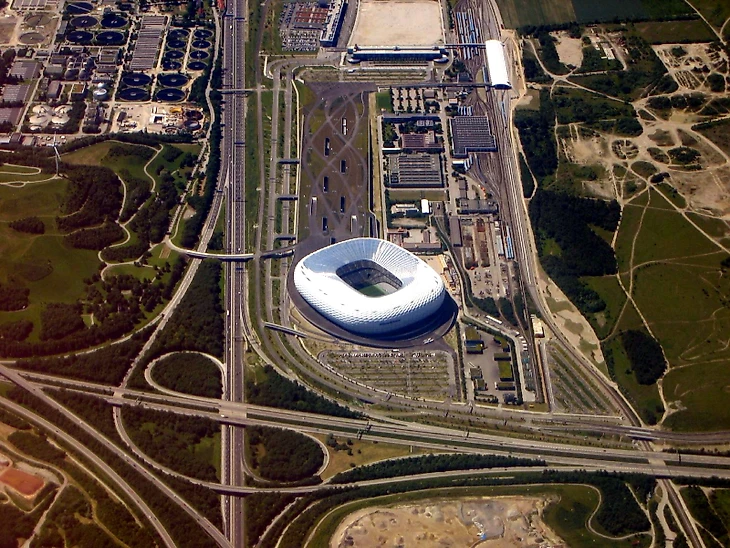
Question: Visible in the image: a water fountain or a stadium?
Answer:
stadium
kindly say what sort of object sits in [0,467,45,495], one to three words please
sports field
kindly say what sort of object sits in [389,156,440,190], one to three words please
building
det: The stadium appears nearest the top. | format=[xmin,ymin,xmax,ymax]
[293,239,447,340]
